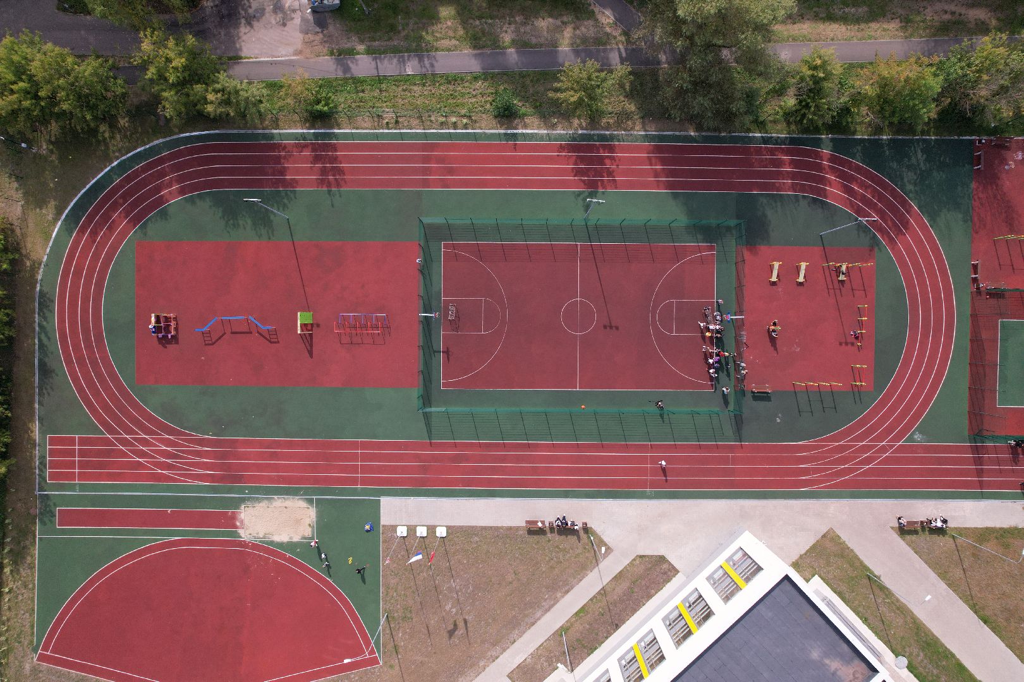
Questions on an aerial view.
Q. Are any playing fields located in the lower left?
Yes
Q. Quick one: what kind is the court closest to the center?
basketball court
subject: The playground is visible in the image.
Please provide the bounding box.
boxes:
[135,241,420,387]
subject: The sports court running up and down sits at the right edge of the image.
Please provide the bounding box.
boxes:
[969,139,1024,436]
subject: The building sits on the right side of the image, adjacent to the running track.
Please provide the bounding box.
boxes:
[582,532,896,682]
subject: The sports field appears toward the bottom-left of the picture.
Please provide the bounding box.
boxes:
[35,493,380,660]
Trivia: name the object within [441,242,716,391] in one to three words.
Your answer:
basketball court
